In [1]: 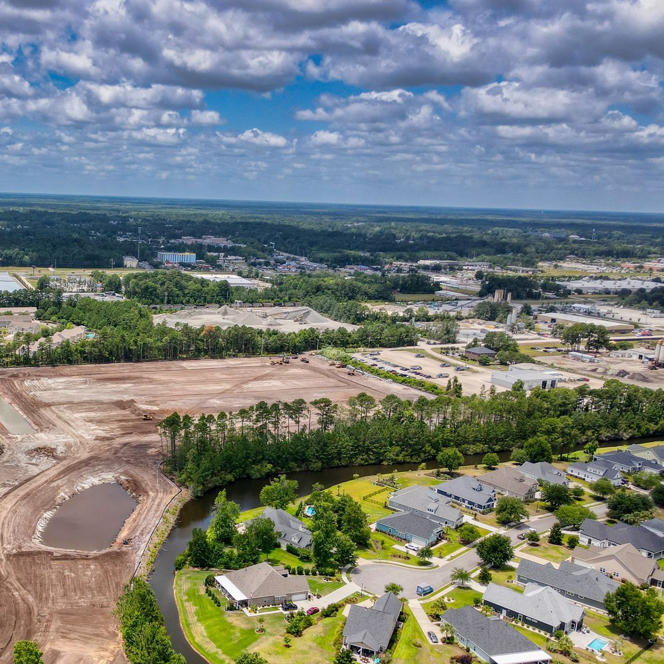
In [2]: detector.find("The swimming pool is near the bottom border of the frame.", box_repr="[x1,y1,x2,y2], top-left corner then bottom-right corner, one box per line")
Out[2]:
[587,637,608,651]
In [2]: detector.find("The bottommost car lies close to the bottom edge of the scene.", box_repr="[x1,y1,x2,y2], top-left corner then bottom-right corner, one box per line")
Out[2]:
[425,630,440,642]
